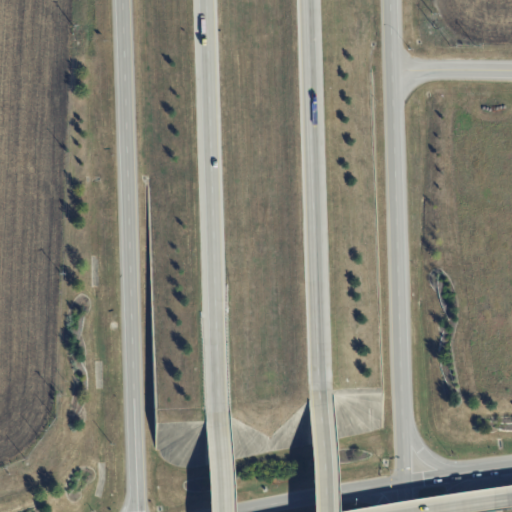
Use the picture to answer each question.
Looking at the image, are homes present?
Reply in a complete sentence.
No, the frame has no home in it.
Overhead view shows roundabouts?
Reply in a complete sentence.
No, I can see no roundabout in this picture.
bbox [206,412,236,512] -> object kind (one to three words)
bridge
